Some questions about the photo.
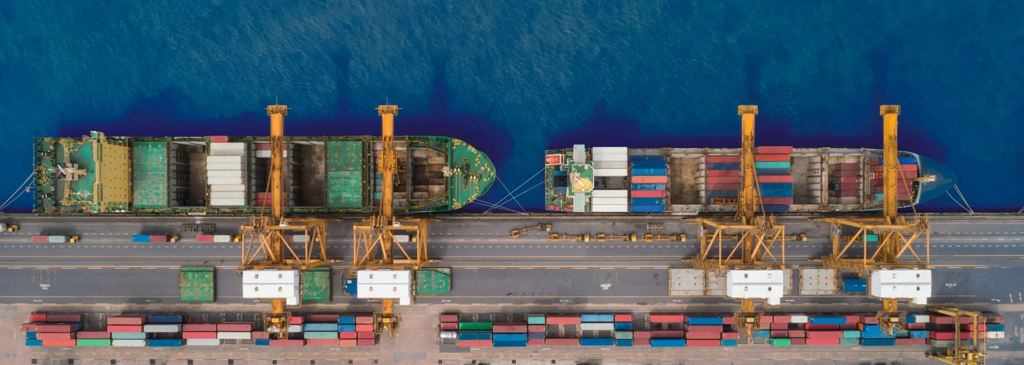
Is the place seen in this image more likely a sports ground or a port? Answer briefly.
port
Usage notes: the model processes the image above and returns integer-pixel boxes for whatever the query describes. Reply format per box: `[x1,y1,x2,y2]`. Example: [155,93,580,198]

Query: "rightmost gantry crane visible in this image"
[928,307,984,365]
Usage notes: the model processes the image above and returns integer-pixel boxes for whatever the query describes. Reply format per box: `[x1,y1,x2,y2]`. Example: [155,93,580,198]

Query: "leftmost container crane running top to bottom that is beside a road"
[234,95,351,342]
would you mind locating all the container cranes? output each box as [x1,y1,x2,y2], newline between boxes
[234,95,351,342]
[682,95,787,342]
[809,95,933,342]
[928,307,984,365]
[346,95,449,342]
